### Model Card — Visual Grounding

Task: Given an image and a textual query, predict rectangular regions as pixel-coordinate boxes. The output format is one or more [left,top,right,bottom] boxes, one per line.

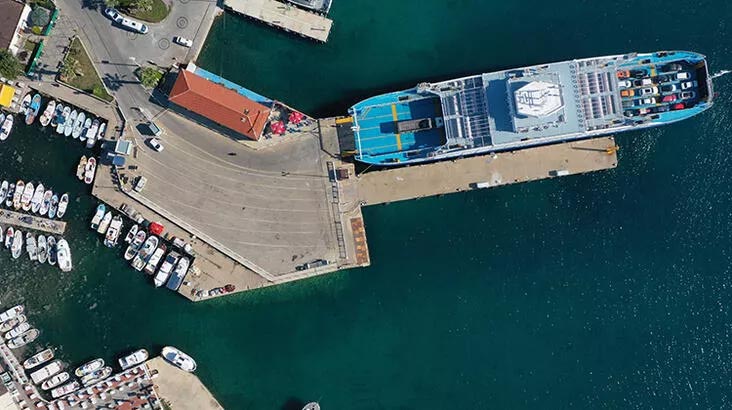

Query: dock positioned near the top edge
[223,0,332,43]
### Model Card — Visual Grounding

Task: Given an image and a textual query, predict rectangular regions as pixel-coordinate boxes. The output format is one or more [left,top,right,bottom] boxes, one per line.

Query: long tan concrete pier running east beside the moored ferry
[362,136,617,206]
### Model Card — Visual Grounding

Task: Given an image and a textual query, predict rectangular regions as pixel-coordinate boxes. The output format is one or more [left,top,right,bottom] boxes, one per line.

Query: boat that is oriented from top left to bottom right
[159,346,197,374]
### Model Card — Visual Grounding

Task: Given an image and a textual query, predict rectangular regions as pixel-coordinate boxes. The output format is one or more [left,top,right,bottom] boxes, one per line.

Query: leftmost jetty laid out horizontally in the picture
[0,209,68,234]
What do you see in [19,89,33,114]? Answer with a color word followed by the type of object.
white boat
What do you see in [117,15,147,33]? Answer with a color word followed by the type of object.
white vehicle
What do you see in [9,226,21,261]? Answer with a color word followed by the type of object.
white boat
